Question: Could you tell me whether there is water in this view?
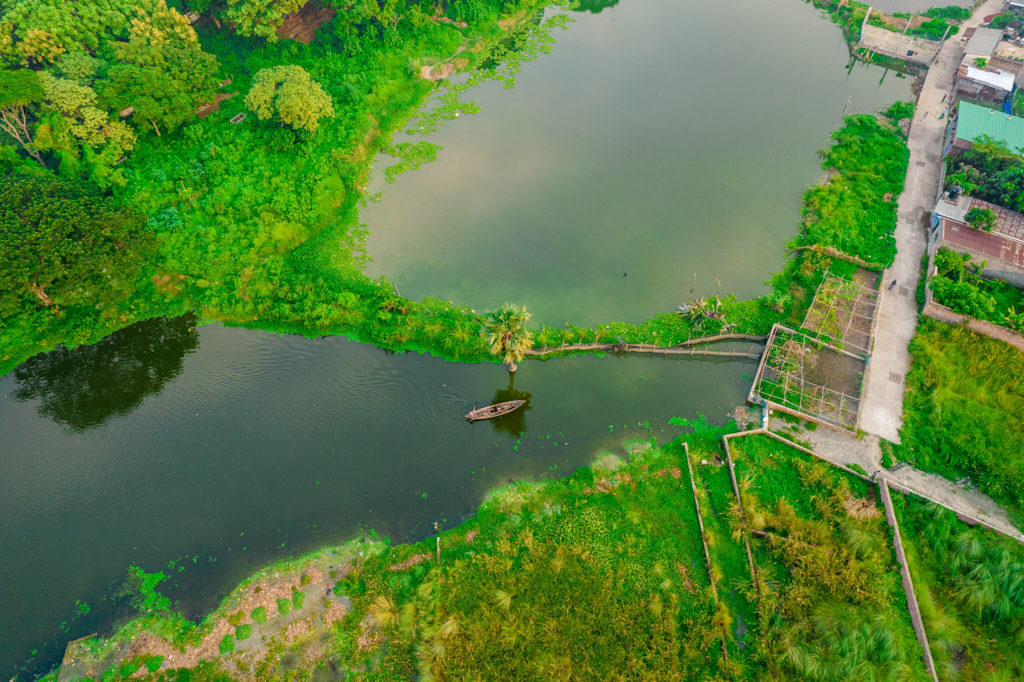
Yes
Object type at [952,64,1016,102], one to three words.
shed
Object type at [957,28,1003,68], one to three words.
shed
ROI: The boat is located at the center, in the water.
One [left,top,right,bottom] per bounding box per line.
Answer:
[464,397,526,417]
